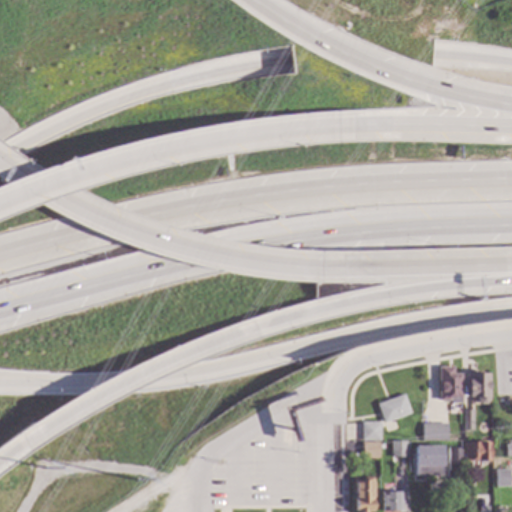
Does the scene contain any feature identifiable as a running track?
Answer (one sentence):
No, the photo shows no running track.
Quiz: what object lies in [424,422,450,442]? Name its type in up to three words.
building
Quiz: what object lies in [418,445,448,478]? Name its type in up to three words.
house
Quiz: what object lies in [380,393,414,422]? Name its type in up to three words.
house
